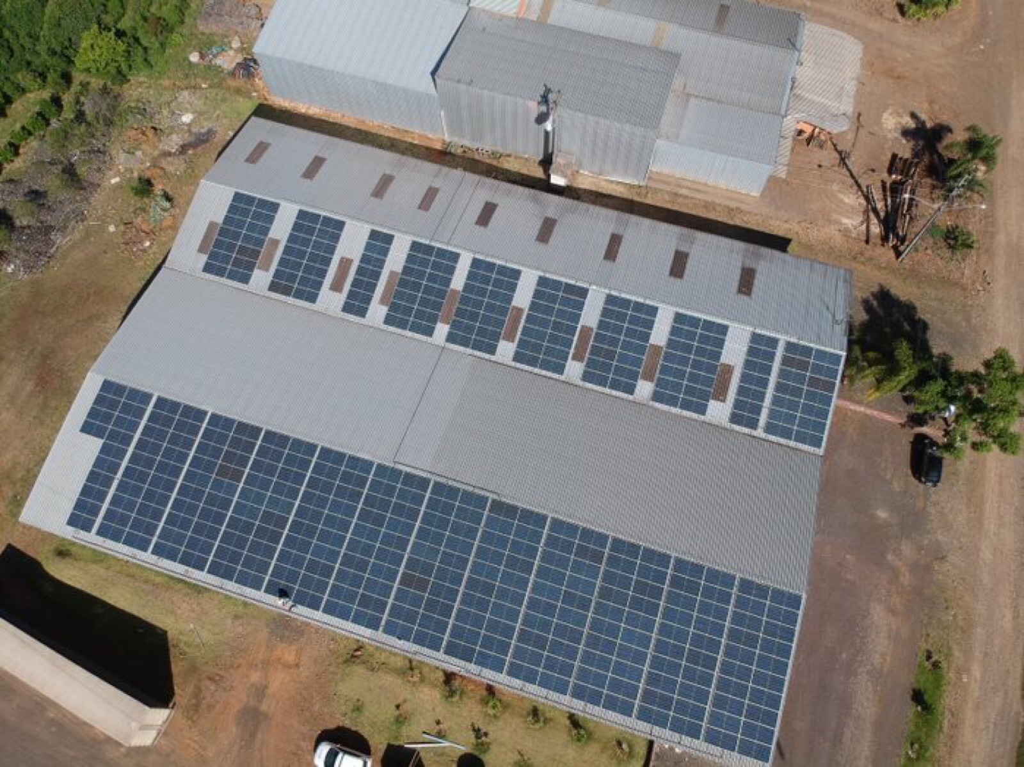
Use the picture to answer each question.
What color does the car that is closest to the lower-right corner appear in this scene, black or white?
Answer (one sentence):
The car that is closest to the lower-right corner looks black in the image.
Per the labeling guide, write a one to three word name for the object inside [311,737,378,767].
car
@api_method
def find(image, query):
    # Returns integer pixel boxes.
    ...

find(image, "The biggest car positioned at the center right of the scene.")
[911,436,945,489]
